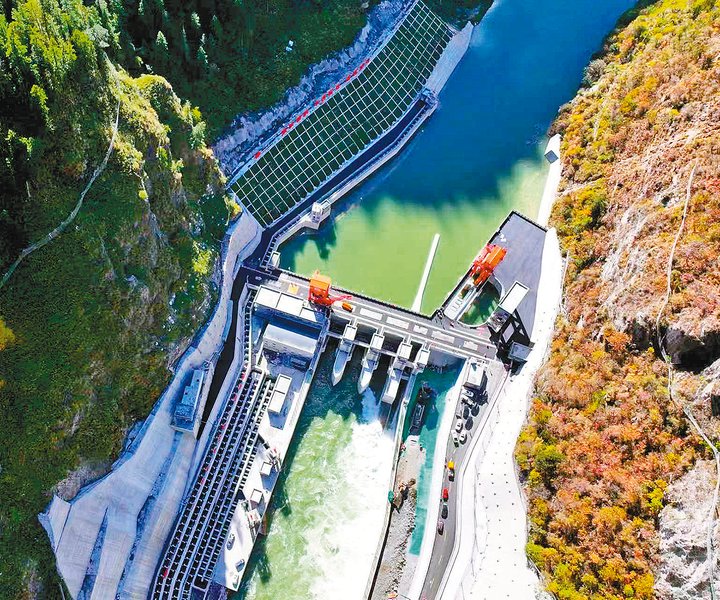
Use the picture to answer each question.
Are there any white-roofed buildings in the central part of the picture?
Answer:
Yes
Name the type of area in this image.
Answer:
port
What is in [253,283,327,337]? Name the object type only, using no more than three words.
building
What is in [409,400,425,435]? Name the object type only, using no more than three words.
ship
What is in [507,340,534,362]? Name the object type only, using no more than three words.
building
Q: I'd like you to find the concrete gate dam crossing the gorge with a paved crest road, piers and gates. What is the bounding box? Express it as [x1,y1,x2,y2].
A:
[240,263,500,600]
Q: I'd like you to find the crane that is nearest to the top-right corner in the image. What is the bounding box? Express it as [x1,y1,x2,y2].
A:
[467,243,508,290]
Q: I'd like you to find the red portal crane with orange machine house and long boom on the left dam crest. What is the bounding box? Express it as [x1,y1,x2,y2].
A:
[304,268,356,311]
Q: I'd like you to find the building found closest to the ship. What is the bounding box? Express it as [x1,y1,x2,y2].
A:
[463,359,487,389]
